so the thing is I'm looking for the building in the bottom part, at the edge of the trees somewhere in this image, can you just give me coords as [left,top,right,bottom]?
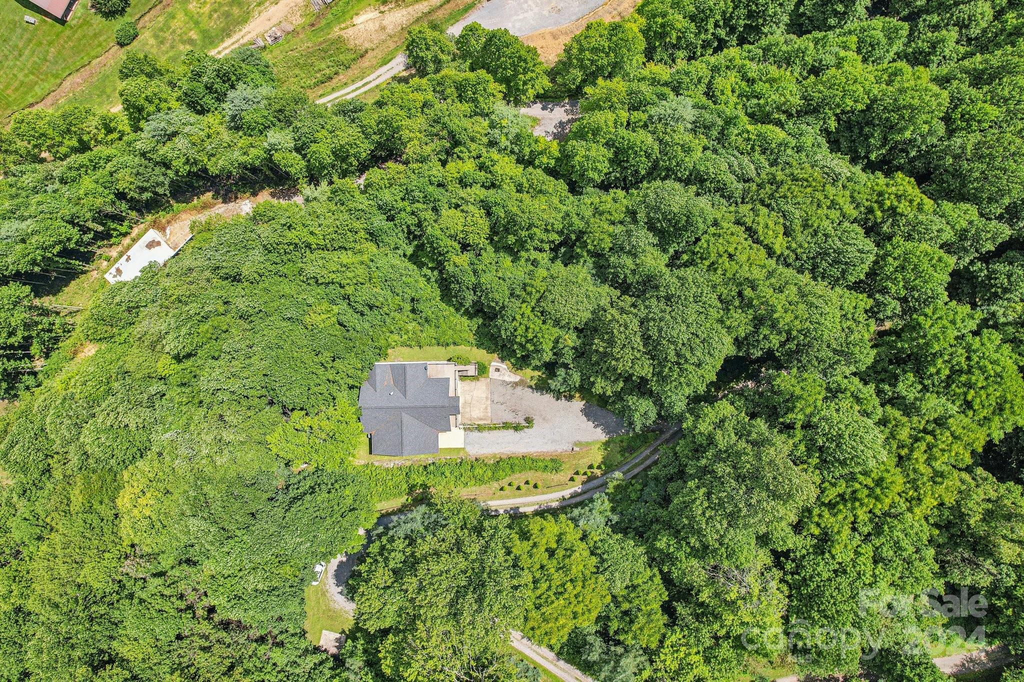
[359,363,477,457]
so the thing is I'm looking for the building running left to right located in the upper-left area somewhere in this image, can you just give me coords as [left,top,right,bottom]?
[30,0,92,29]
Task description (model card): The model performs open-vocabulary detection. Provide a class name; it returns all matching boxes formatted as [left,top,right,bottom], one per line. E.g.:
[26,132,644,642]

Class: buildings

[30,0,92,29]
[104,228,180,293]
[359,363,477,457]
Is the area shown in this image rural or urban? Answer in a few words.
rural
